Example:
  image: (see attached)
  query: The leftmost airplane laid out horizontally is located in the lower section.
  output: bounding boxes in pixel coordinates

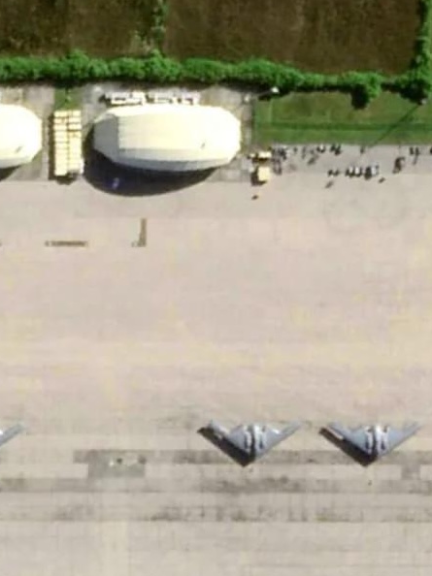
[208,420,301,458]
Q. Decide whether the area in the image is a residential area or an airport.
airport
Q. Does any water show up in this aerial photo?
No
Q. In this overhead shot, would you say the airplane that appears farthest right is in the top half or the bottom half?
bottom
